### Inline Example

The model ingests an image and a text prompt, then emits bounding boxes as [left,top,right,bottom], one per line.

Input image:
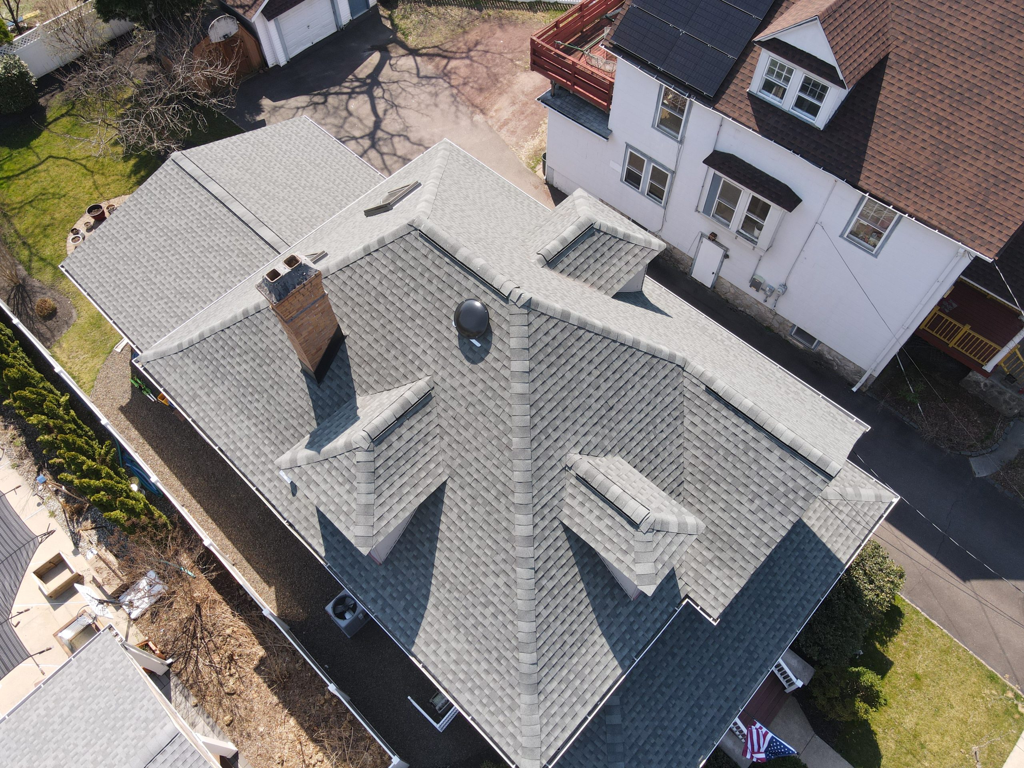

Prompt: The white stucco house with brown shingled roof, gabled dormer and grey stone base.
[528,0,1024,407]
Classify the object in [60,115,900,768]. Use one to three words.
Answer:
house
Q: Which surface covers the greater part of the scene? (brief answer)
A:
buildings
